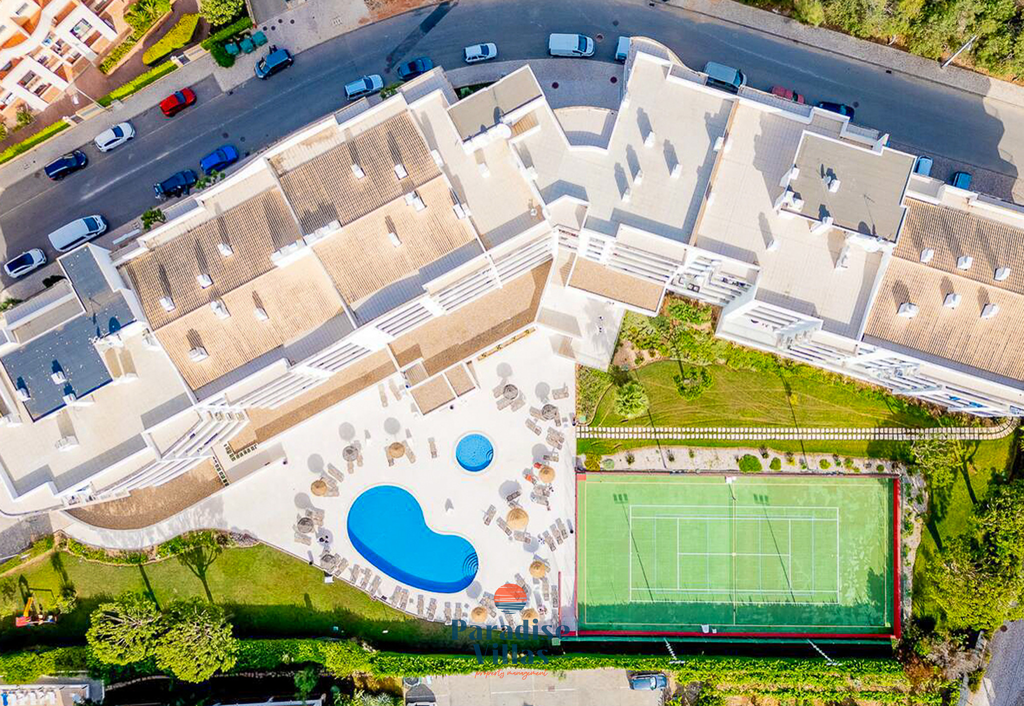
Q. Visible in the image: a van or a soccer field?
van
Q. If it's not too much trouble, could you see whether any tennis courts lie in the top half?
No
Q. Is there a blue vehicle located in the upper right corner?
Yes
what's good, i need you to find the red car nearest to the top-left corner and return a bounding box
[159,89,197,117]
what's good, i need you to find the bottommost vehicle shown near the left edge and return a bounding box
[5,249,48,278]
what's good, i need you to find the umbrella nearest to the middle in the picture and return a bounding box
[501,385,519,401]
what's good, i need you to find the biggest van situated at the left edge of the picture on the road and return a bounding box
[49,215,109,254]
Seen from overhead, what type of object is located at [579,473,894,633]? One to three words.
tennis court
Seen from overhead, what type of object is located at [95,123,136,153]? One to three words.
car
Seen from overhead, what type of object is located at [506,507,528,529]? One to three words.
umbrella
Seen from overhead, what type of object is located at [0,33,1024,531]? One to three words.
building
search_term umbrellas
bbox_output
[342,445,358,462]
[501,385,519,401]
[529,560,546,577]
[389,441,405,458]
[541,404,557,421]
[506,507,528,529]
[471,606,488,622]
[297,516,313,532]
[319,552,336,569]
[537,465,555,482]
[311,478,328,495]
